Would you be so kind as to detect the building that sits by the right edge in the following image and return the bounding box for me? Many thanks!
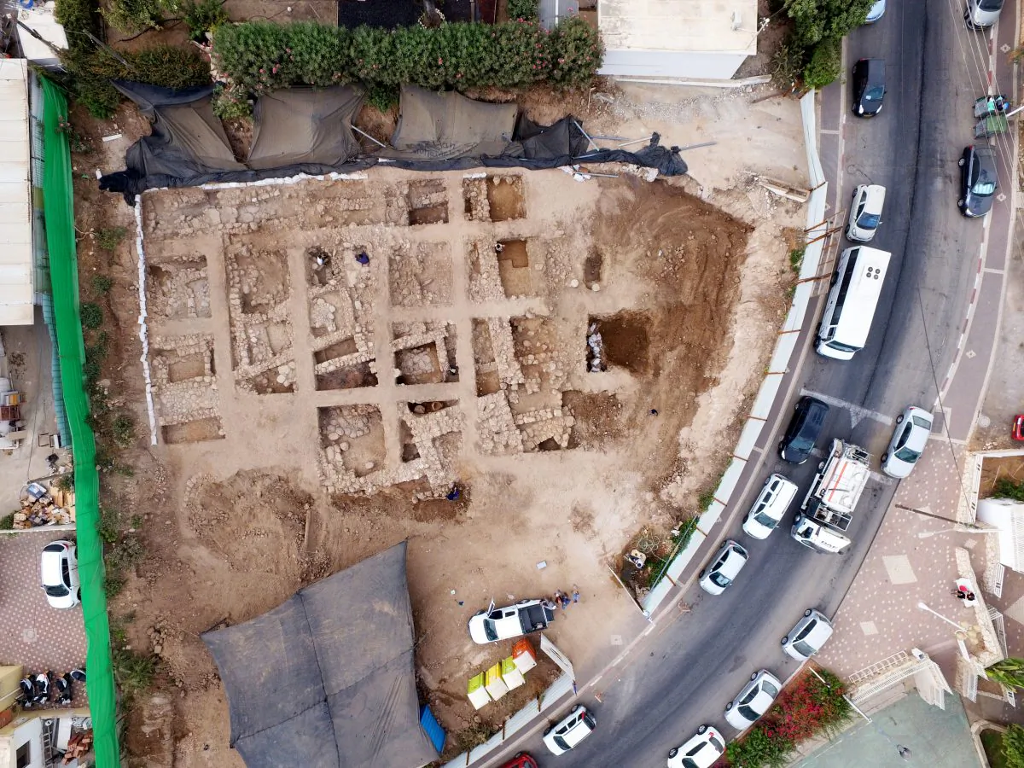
[980,494,1024,577]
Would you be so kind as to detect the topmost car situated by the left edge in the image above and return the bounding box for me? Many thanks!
[37,538,81,609]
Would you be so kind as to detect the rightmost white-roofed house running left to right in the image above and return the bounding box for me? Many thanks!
[593,0,757,76]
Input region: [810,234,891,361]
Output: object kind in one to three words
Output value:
vehicle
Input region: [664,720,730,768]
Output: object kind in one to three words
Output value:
car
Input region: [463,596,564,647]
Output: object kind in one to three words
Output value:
truck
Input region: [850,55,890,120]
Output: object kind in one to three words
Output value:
car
